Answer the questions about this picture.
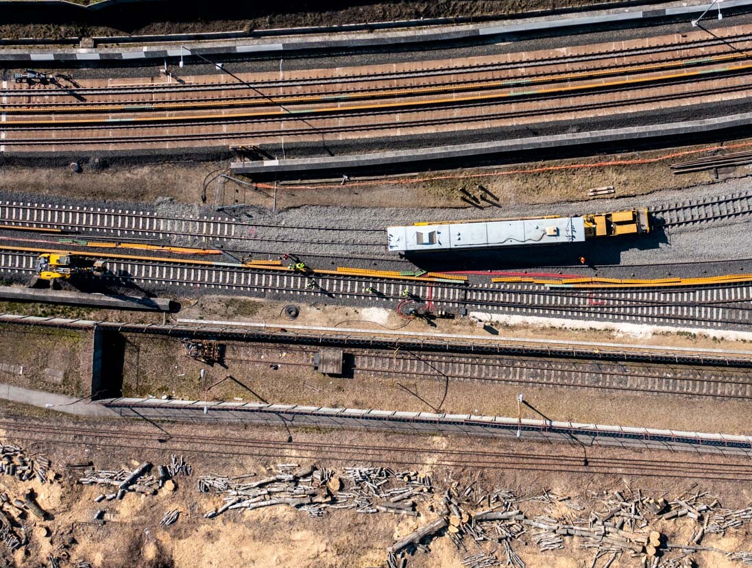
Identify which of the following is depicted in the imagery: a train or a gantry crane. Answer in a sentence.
Of the two, only a train appears.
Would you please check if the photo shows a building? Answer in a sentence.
No, no building is visible in the scene.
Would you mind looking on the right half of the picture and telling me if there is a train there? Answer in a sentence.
Yes, a train appears on the right half of the picture.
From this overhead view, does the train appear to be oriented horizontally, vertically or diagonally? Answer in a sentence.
The train has been laid out horizontally relative to the frame.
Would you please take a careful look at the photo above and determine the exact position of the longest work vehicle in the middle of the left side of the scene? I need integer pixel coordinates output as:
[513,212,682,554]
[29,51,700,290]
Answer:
[29,252,105,290]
